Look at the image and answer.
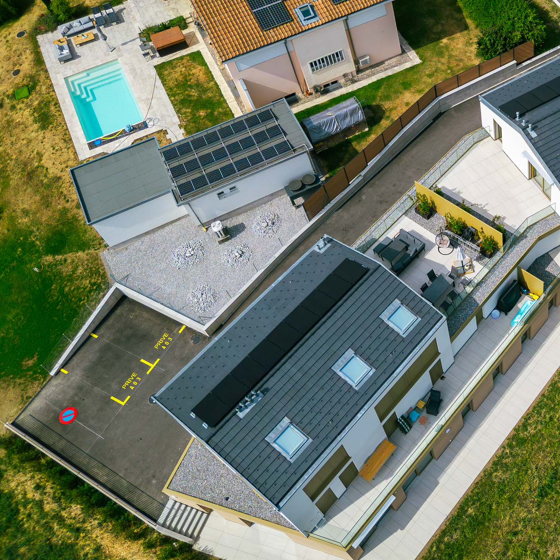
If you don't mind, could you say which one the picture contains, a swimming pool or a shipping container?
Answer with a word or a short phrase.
swimming pool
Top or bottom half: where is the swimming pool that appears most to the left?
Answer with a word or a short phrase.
top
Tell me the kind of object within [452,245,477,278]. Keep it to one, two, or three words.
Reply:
umbrella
